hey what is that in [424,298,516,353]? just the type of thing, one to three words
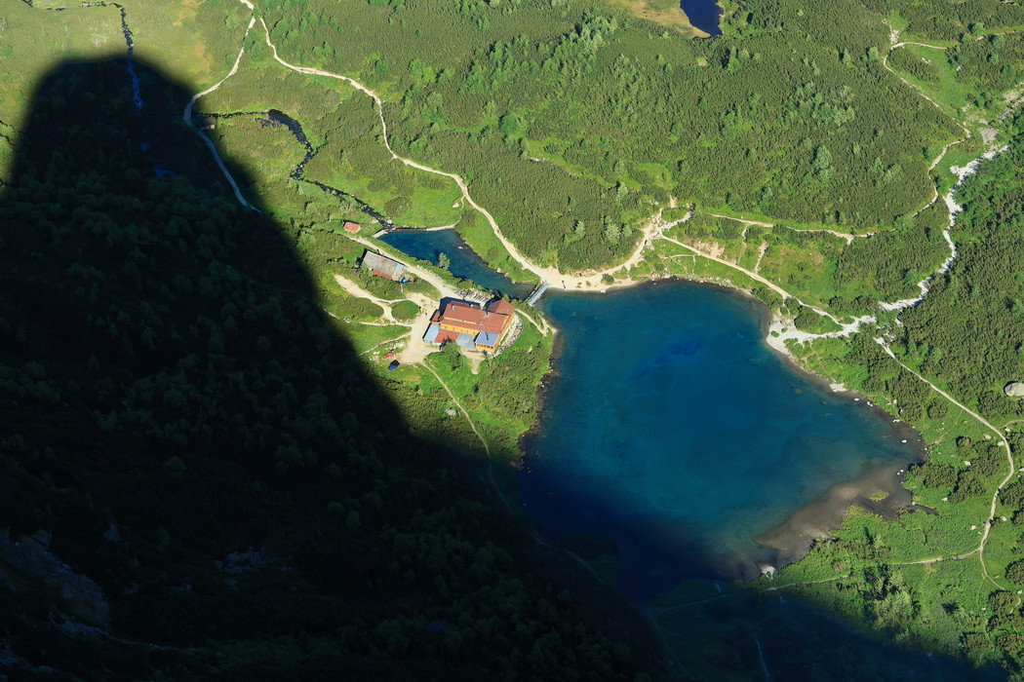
shed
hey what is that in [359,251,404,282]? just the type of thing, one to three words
barn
